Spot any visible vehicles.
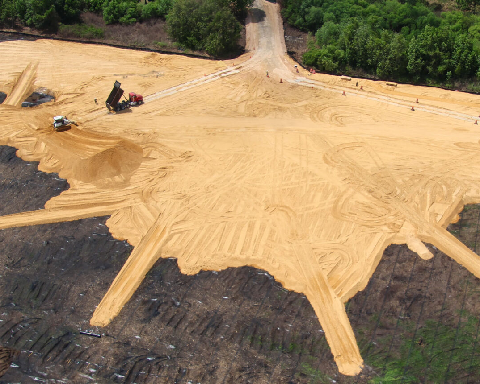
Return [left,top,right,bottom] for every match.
[103,76,142,112]
[51,114,75,131]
